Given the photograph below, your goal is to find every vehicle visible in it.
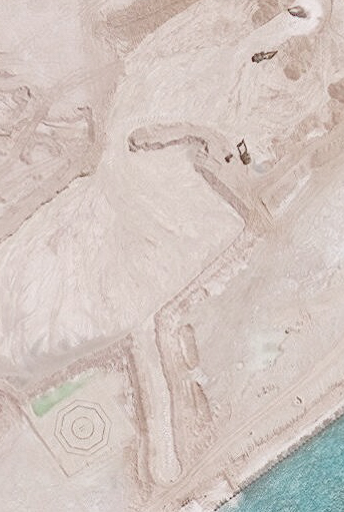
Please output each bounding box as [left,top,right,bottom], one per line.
[288,7,308,20]
[240,139,251,165]
[251,50,276,64]
[225,153,234,161]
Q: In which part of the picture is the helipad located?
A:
bottom left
